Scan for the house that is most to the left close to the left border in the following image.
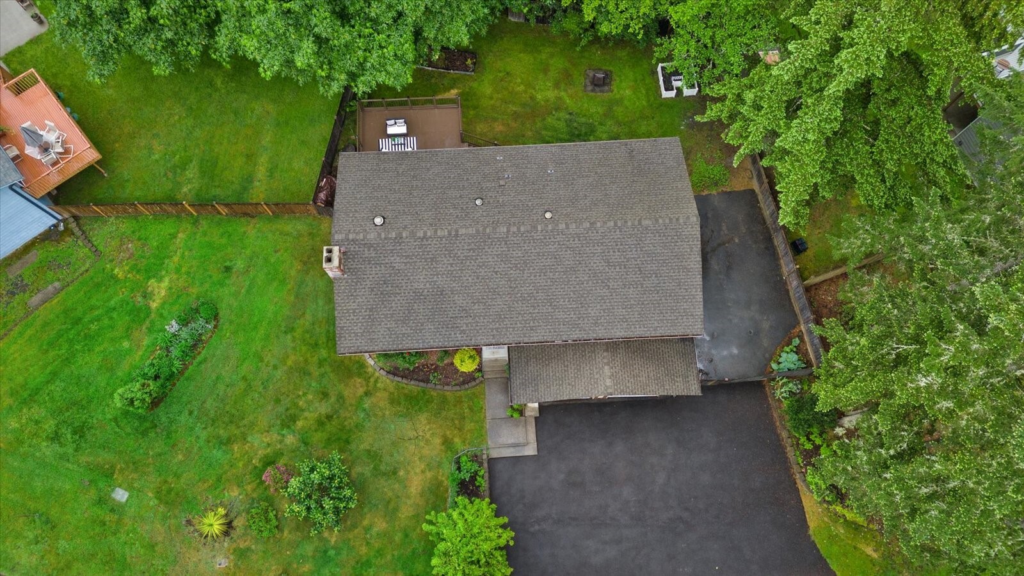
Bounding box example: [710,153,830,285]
[0,141,62,259]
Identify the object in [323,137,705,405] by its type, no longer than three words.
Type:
house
